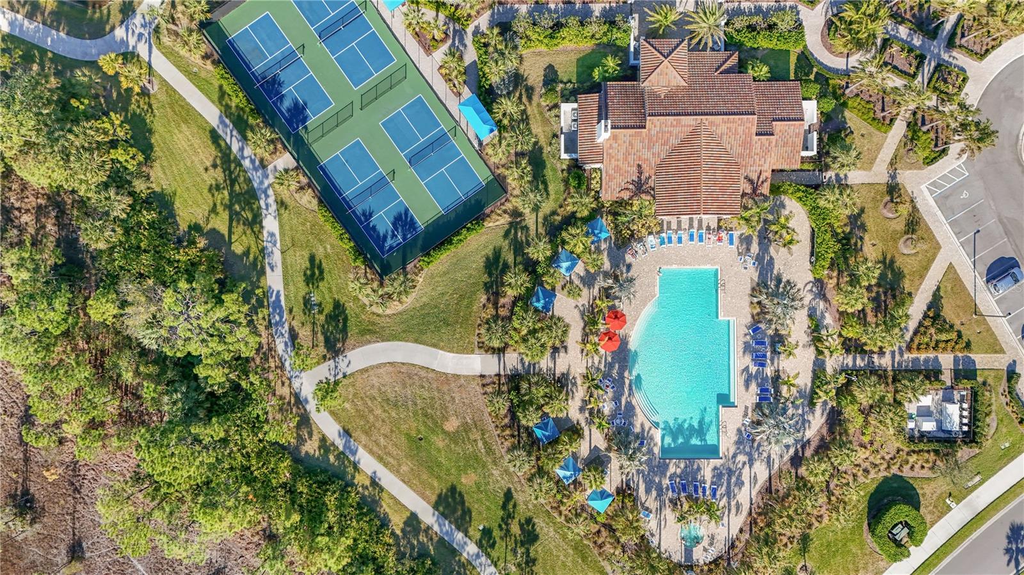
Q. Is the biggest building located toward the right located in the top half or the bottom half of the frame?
top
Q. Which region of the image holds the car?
right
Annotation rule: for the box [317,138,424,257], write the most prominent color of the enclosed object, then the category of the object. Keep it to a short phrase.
blue sports court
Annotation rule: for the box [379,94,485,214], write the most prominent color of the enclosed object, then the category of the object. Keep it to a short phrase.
blue sports court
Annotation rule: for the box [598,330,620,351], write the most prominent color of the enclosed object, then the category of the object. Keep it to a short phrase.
red umbrella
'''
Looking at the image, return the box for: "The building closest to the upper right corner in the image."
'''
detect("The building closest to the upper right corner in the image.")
[578,37,805,220]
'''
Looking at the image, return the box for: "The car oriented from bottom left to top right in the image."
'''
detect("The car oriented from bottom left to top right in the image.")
[983,266,1024,297]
